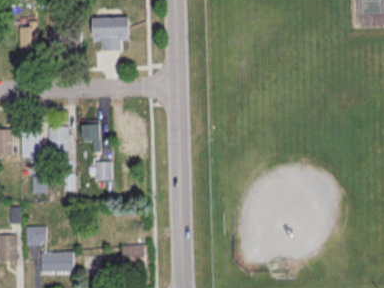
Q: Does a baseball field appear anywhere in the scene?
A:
Yes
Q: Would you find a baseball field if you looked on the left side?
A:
No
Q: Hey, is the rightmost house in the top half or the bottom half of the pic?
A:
bottom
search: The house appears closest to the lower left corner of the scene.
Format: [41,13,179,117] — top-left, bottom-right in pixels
[0,235,18,264]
